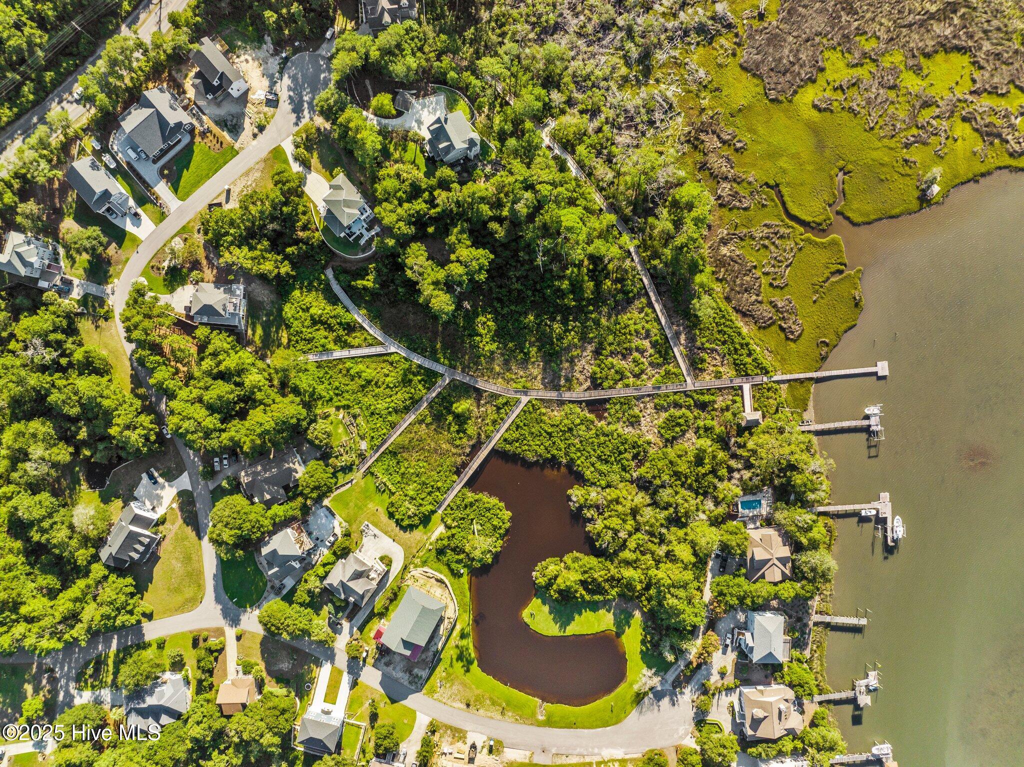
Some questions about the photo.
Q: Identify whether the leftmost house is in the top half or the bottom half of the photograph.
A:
top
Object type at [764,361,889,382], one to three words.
pier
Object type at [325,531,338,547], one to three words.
vehicle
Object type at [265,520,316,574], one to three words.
house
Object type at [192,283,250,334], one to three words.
house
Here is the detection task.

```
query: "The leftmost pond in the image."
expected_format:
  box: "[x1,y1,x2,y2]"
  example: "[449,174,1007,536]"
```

[456,442,627,706]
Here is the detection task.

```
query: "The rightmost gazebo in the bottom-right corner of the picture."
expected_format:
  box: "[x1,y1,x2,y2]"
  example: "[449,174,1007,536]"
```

[851,688,870,706]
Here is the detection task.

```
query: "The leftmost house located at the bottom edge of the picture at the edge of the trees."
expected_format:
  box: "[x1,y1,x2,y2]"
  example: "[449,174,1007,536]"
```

[125,668,205,740]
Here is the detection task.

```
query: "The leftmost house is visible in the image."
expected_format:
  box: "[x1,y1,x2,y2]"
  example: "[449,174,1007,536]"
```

[0,233,70,284]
